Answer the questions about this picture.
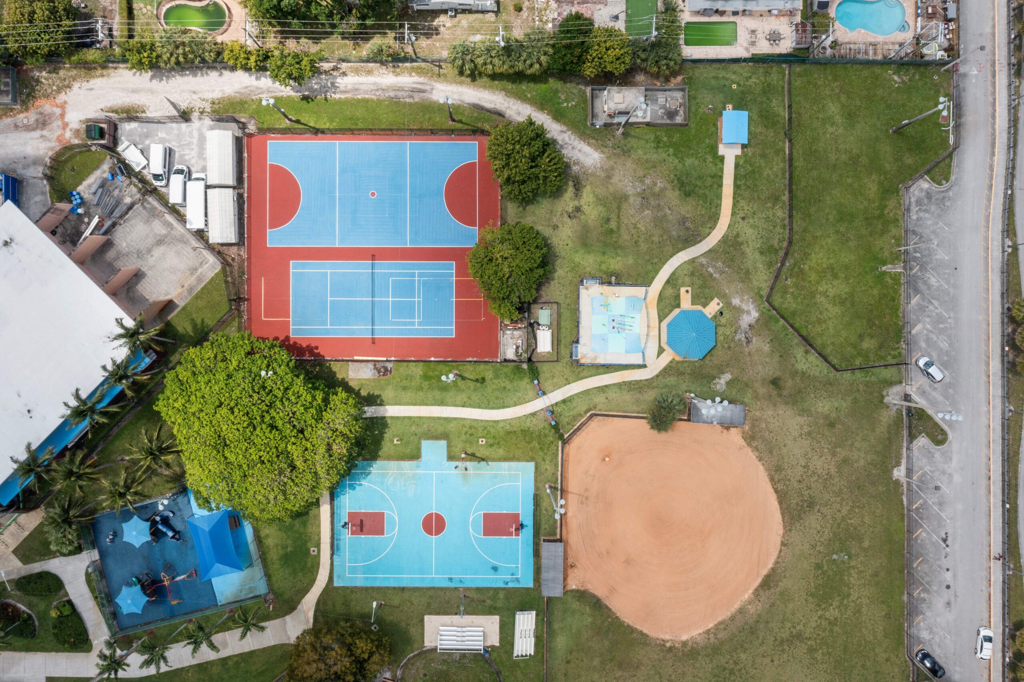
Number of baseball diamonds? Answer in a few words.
1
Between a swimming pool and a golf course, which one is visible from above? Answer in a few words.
swimming pool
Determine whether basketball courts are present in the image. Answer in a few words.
Yes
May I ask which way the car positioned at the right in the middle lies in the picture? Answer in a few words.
at an angle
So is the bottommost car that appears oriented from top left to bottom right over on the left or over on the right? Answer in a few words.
right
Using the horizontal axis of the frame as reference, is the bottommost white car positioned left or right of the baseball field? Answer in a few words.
right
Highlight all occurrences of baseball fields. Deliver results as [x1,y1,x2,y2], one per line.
[564,415,783,641]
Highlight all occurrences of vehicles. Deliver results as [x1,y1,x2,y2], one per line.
[916,650,946,681]
[165,165,187,205]
[183,174,207,230]
[974,628,996,663]
[916,356,945,384]
[147,141,167,184]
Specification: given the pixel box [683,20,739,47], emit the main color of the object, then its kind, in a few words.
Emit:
green swimming pool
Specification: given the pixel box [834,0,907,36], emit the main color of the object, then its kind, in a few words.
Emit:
blue swimming pool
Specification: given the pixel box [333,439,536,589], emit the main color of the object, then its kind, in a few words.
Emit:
blue basketball court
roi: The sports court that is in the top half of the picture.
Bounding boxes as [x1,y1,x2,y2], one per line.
[245,134,500,360]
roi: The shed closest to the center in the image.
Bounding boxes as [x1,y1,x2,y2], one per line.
[537,330,552,352]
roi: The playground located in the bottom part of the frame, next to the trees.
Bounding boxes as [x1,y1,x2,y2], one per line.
[92,486,269,630]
